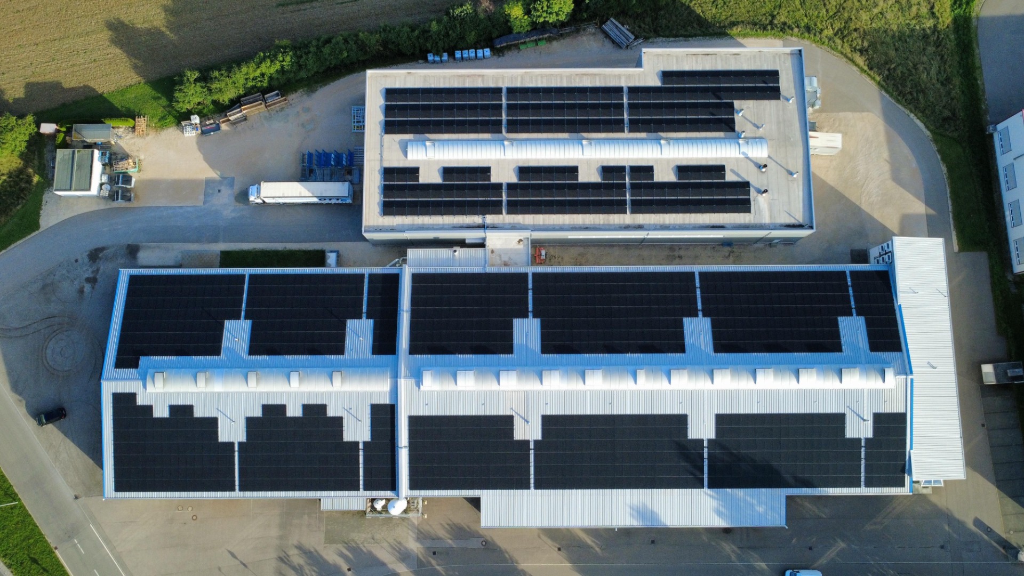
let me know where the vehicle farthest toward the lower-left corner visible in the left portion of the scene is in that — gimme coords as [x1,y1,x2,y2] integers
[36,406,69,427]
